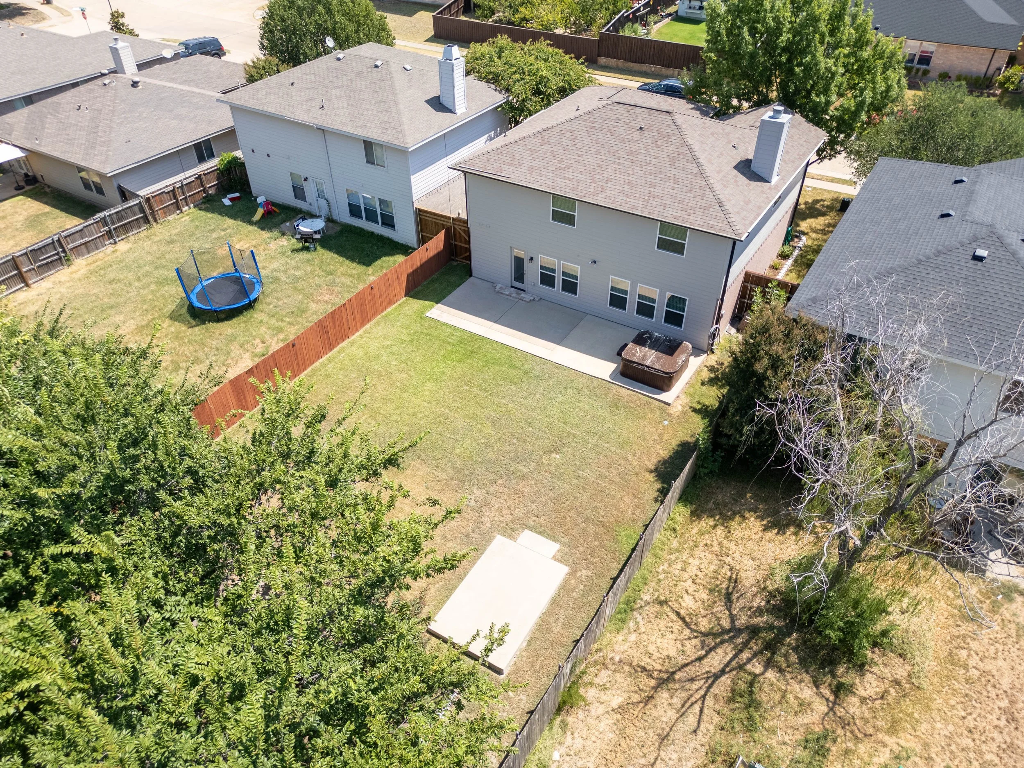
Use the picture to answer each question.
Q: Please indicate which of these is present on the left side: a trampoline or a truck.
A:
trampoline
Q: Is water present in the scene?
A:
No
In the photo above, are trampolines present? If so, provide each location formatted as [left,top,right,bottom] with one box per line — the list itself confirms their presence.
[177,242,268,328]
